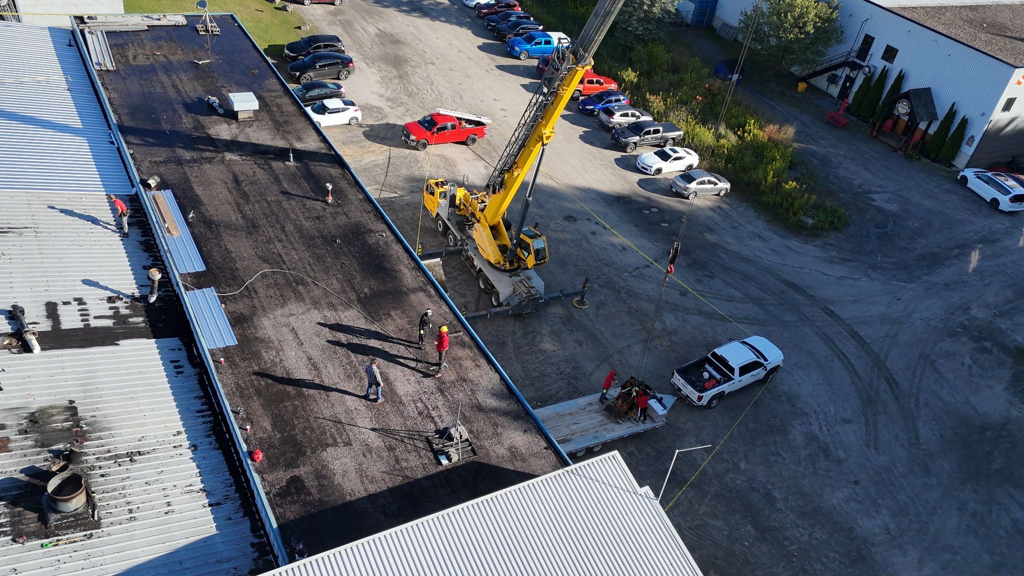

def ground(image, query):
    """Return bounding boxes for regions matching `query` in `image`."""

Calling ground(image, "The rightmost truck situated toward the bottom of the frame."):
[666,333,788,409]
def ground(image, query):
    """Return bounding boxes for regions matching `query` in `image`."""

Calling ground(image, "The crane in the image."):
[420,0,631,325]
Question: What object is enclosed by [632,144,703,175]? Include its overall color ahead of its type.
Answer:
white car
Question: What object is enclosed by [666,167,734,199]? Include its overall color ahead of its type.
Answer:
gray car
